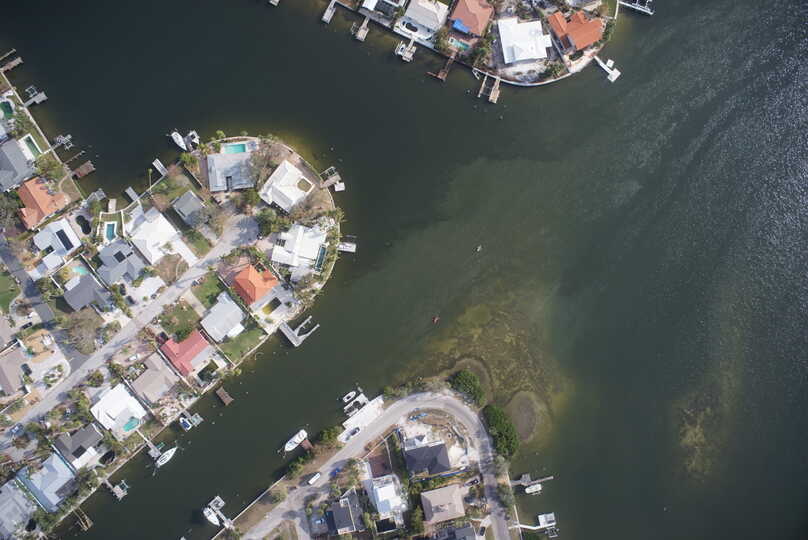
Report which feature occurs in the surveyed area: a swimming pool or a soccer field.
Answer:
swimming pool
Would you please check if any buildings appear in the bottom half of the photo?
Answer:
Yes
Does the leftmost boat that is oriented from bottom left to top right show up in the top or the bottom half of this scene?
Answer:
bottom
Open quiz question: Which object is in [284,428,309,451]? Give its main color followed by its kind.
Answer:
white boat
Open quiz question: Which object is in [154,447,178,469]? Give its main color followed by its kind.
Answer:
white boat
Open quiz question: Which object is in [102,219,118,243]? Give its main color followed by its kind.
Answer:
white swimming pool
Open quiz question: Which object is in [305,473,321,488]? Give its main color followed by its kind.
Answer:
white vehicle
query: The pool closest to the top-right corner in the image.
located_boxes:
[447,36,471,51]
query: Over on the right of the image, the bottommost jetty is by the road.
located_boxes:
[507,511,559,540]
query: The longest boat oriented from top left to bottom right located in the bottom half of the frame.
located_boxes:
[202,506,220,525]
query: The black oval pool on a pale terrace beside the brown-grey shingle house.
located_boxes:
[97,448,117,467]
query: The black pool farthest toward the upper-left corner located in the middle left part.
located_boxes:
[75,215,92,238]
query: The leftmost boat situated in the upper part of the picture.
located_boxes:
[172,129,189,149]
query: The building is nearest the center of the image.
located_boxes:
[270,225,328,266]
